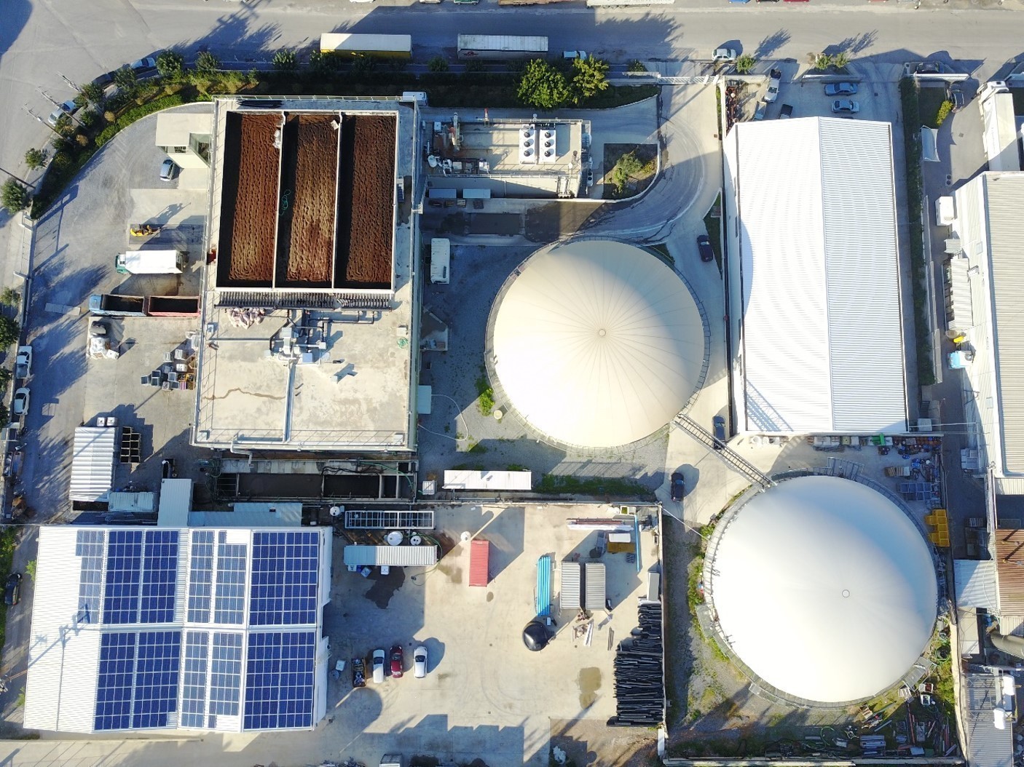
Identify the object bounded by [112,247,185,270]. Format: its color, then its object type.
white truck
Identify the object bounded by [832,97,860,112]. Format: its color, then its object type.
blue car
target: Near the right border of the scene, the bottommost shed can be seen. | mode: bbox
[959,715,1013,767]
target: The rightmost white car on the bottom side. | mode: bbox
[411,647,427,680]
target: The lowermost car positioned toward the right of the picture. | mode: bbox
[671,471,687,501]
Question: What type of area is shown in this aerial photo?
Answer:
industrial area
